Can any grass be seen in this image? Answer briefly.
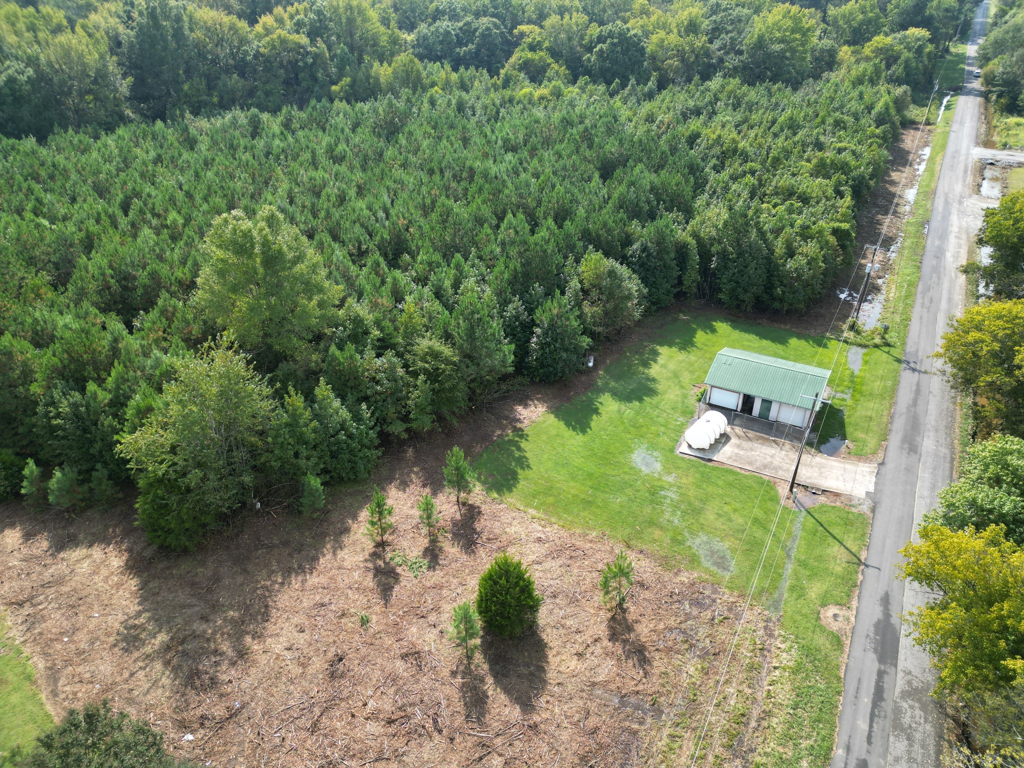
Yes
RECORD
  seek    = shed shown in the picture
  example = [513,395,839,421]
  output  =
[704,347,832,428]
